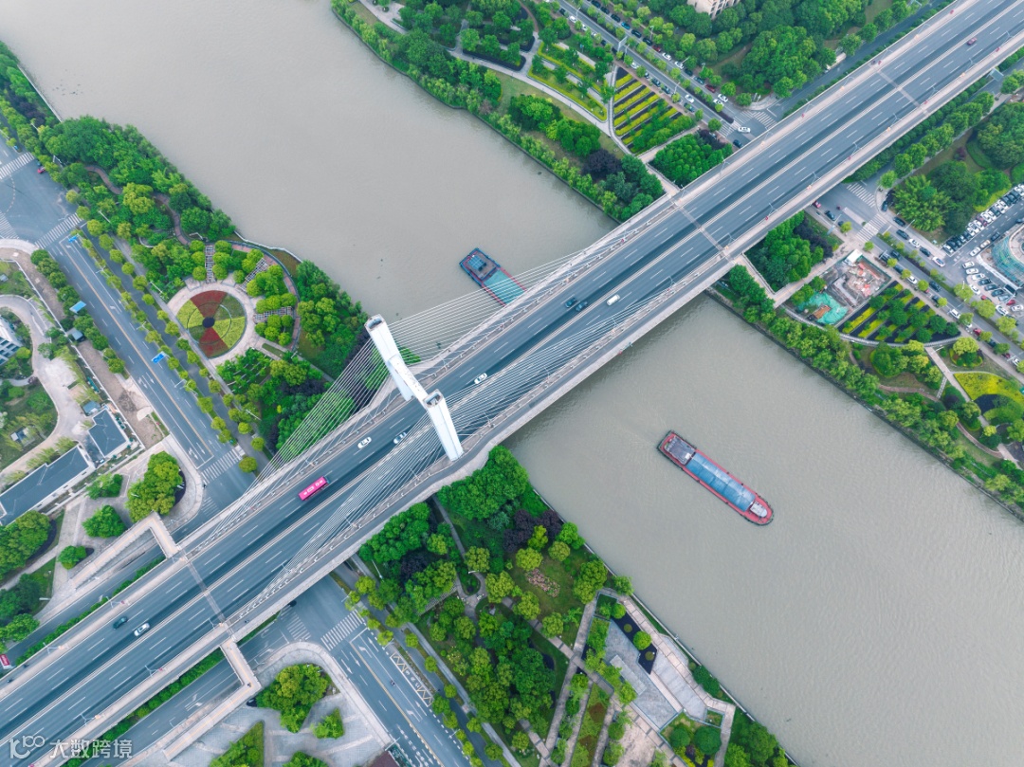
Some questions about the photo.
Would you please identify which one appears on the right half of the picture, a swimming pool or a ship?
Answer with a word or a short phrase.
ship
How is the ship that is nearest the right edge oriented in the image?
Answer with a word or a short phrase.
on a diagonal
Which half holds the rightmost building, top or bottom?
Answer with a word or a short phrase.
top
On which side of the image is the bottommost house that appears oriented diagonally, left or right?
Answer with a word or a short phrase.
left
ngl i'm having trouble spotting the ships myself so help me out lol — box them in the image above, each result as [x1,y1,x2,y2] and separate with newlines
[460,247,528,304]
[657,429,775,525]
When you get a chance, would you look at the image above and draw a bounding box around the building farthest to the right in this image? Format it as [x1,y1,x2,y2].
[985,219,1024,283]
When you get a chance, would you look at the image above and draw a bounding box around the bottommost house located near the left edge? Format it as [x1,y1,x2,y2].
[0,446,98,524]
